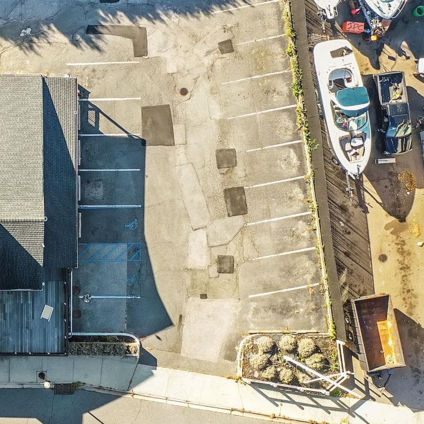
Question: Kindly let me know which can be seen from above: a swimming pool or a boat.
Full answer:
There is a boat in the scene.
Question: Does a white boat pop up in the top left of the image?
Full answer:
No, there's no white boat to be seen in the top left of the image.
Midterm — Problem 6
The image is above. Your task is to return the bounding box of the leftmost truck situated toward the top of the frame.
[369,72,414,157]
